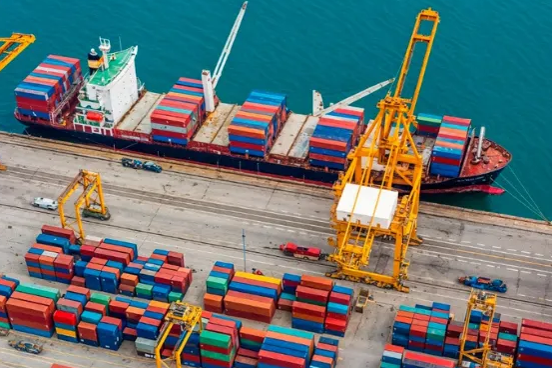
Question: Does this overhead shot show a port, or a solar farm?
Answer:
port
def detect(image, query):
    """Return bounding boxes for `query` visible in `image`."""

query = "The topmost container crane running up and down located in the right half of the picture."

[322,9,435,282]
